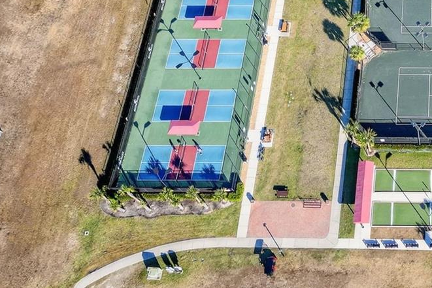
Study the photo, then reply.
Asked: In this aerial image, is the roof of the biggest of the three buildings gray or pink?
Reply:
pink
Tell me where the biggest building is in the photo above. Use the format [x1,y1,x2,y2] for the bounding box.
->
[353,161,379,230]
